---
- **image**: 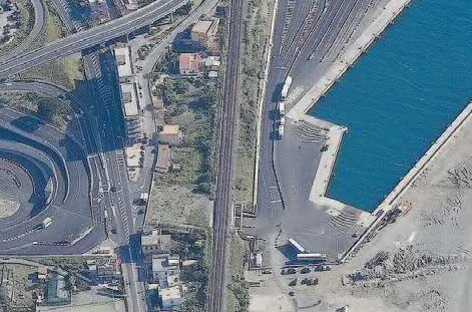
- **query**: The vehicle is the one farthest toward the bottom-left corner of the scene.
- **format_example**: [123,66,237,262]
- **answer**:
[40,215,54,229]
